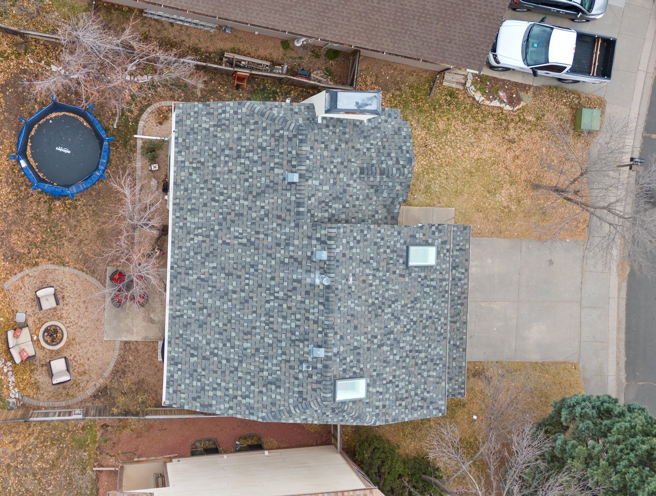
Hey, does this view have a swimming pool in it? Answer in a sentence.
No, the scene contains no swimming pool.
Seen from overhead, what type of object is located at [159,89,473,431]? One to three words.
house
